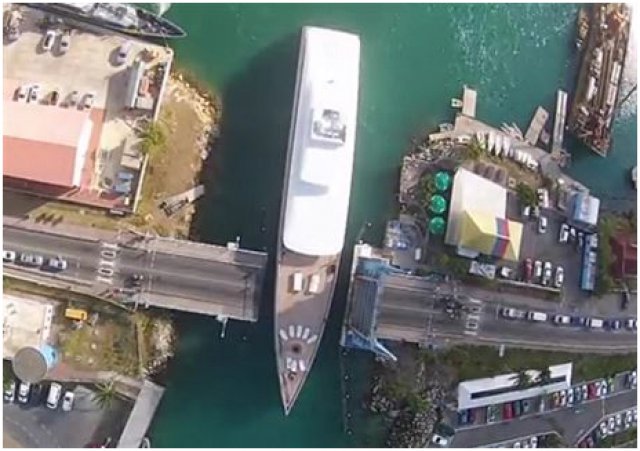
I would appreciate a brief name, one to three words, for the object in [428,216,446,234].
umbrella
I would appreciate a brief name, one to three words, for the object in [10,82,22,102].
vehicle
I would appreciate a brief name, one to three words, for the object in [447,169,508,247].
building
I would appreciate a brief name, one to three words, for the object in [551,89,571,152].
pier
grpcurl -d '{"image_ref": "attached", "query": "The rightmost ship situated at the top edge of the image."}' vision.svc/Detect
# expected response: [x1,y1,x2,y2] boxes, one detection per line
[568,0,631,159]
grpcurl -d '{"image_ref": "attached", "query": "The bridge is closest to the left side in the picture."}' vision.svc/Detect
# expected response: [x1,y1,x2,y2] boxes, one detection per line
[142,233,269,321]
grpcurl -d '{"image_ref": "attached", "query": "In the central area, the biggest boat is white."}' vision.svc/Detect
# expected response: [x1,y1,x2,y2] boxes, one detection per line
[274,29,361,413]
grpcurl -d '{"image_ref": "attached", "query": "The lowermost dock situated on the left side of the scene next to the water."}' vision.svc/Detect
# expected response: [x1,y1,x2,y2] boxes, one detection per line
[158,186,206,211]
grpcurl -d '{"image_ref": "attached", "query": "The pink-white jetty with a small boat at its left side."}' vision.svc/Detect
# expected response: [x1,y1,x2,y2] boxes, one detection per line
[462,86,479,117]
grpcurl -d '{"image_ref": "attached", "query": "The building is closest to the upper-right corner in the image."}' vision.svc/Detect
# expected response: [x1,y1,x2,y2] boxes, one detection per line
[564,193,600,236]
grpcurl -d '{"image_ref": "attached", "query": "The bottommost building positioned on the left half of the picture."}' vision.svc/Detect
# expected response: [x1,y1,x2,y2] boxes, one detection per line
[0,292,54,355]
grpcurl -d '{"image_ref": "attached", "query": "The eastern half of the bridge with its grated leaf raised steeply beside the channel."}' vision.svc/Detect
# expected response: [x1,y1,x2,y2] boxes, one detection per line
[341,251,432,363]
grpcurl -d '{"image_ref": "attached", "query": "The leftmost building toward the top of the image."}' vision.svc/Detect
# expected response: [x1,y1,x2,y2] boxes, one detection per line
[0,99,101,189]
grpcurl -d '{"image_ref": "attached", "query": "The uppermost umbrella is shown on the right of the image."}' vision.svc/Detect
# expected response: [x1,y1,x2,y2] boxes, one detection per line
[432,172,449,190]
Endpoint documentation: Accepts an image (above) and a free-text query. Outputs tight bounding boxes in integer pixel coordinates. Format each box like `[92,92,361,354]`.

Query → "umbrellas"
[428,216,446,234]
[432,172,449,190]
[429,196,446,212]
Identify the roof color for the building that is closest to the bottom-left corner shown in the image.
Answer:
white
